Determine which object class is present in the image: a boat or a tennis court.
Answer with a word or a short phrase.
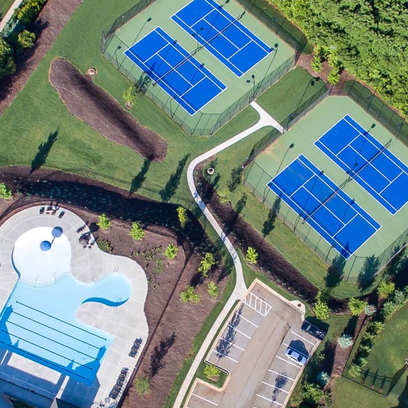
tennis court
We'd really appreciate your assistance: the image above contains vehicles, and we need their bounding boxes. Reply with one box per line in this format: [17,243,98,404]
[298,319,327,341]
[286,346,310,365]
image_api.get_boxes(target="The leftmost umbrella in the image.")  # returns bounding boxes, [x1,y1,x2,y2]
[75,232,90,246]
